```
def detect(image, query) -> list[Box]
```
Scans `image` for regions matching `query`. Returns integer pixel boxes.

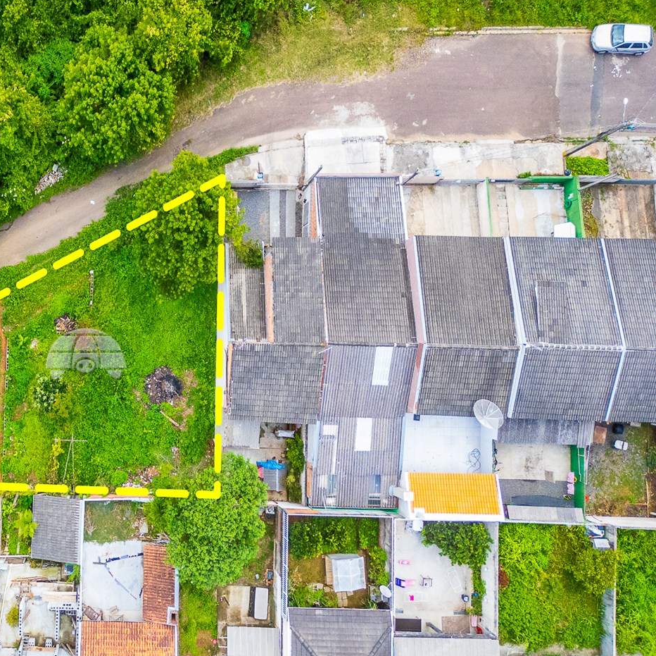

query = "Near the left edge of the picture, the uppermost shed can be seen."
[31,489,83,567]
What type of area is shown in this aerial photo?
residential area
